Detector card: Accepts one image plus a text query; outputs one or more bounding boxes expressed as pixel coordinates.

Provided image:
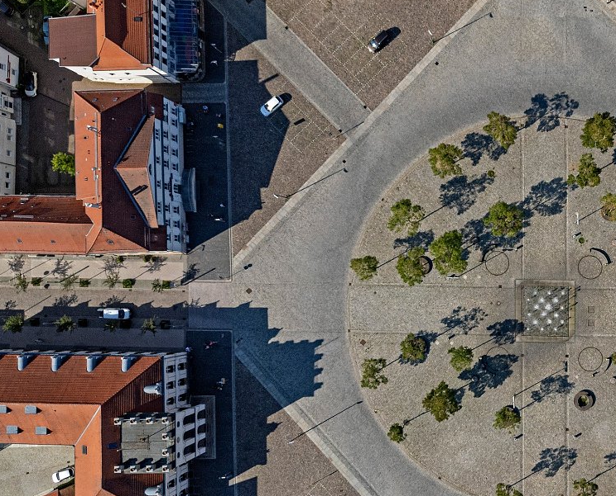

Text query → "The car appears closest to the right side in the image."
[365,28,392,53]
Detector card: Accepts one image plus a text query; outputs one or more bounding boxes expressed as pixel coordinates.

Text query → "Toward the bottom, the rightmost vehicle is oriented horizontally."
[96,306,135,322]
